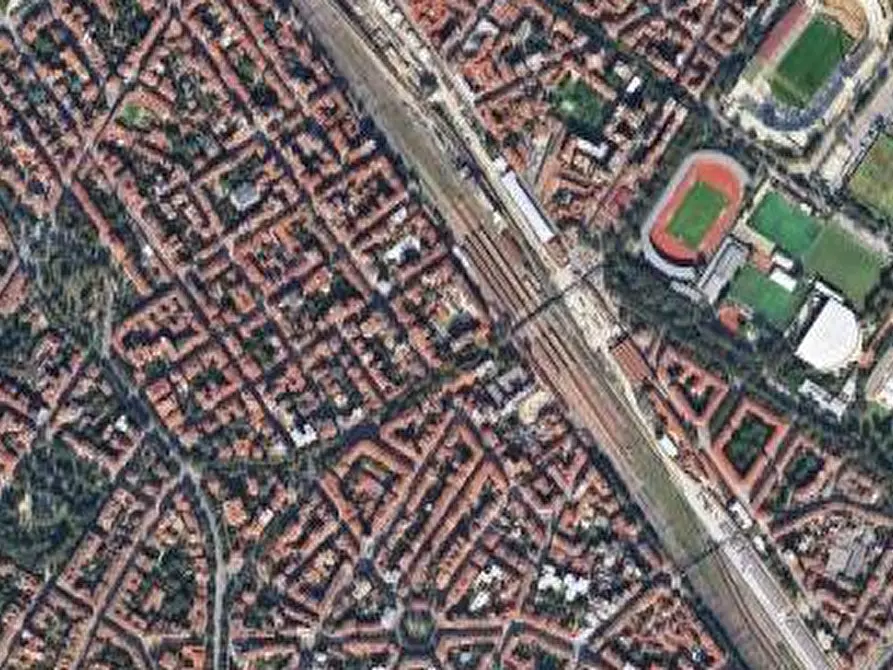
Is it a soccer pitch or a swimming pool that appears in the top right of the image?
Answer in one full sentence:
The one visible in the top right of the image is a soccer pitch.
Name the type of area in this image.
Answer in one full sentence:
This image shows a residential area.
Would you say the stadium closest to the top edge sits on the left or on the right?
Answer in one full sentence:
The stadium closest to the top edge sits on the right side.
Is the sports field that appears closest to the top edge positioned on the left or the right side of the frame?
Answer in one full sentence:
The sports field that appears closest to the top edge appears in the right half of the scene.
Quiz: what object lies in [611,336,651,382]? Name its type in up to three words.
shed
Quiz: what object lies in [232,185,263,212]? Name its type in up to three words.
building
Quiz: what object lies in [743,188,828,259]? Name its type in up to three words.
soccer field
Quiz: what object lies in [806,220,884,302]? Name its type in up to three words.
soccer field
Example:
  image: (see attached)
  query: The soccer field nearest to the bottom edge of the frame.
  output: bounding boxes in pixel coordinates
[726,263,798,325]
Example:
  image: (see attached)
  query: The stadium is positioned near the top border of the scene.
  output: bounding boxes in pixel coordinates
[749,0,875,132]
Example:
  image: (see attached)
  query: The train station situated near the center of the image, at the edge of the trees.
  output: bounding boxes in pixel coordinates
[449,170,576,366]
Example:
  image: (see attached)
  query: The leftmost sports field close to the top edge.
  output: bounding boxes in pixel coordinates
[774,19,843,99]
